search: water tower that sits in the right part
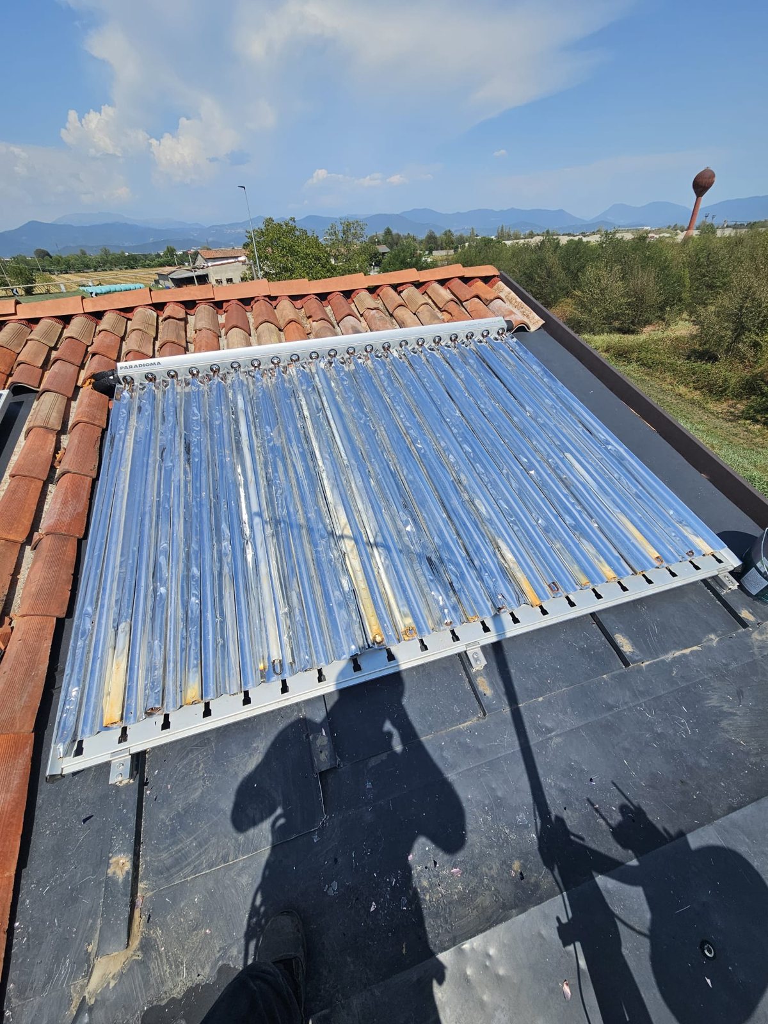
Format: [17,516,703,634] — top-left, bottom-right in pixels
[682,160,718,233]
